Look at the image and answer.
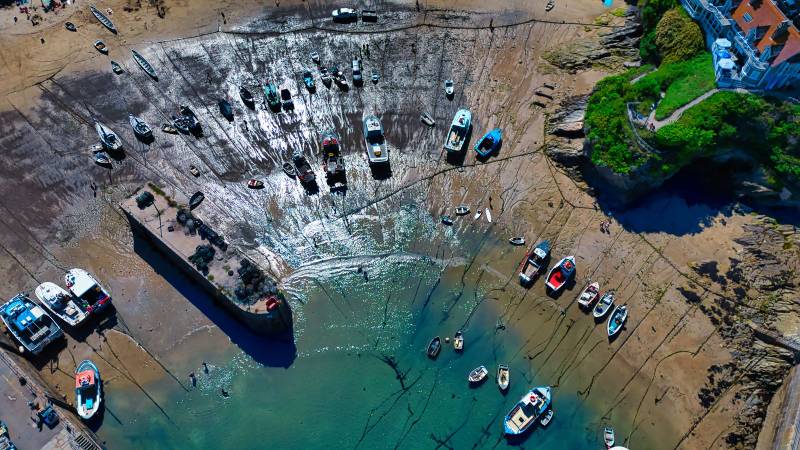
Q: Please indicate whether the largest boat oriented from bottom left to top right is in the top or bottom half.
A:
bottom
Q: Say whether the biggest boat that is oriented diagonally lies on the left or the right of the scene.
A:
left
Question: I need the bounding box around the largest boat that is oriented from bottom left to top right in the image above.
[501,388,550,440]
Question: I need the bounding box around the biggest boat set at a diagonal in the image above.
[1,293,62,360]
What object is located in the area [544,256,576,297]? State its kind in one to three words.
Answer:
boat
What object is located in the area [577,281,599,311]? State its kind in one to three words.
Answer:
boat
